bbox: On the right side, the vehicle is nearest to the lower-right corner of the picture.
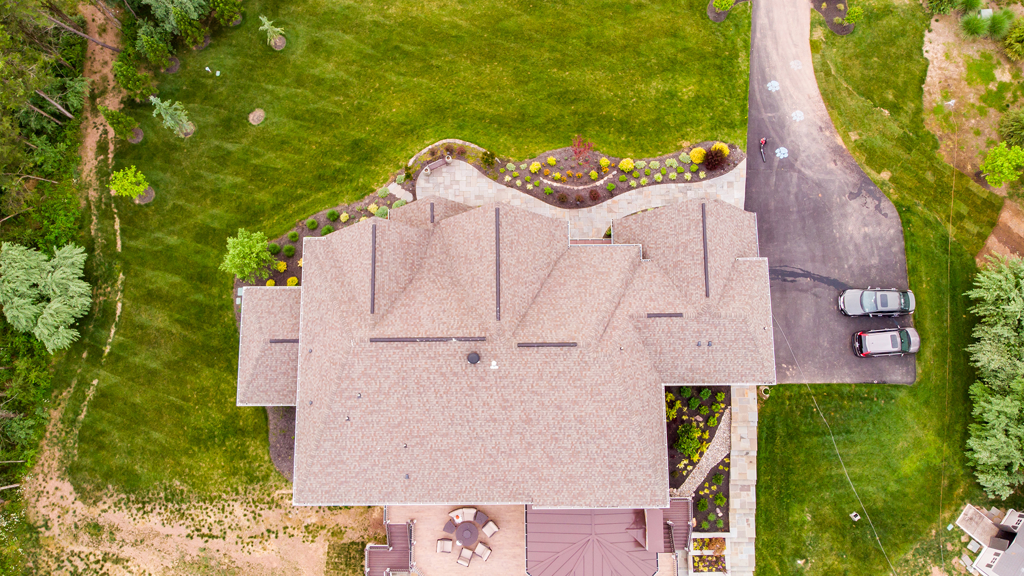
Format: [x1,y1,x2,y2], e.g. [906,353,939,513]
[848,325,919,359]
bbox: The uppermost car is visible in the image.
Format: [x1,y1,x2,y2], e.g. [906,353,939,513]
[835,285,915,319]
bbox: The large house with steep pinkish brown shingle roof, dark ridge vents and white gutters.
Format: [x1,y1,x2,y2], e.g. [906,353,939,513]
[234,197,778,510]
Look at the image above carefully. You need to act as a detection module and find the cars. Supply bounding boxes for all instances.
[848,325,919,359]
[835,285,915,319]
